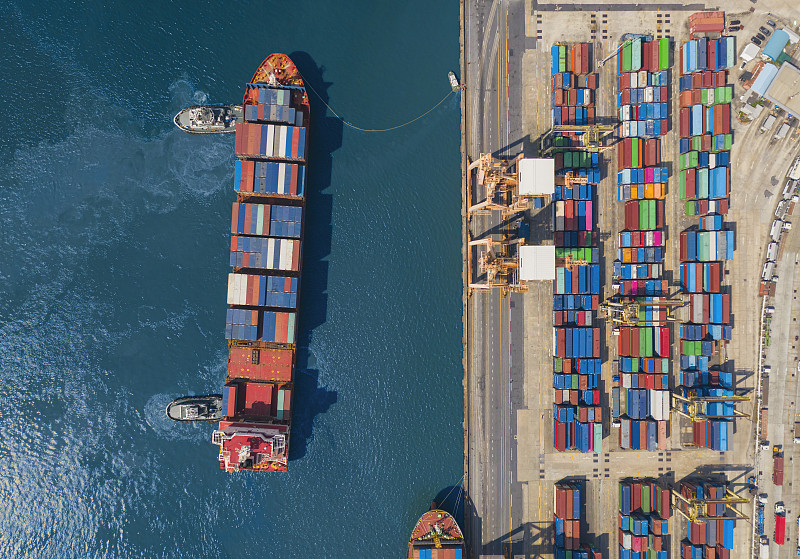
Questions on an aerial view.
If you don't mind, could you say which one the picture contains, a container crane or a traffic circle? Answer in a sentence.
Visible in the photo is a container crane.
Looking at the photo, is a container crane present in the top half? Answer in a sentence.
Yes, a container crane shows up in the top half.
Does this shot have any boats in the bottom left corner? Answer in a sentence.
Yes, a boat can be seen in the bottom left corner.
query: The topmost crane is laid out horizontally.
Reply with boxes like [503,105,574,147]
[541,124,616,159]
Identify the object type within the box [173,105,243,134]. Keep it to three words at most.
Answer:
boat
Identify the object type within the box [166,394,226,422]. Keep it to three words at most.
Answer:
boat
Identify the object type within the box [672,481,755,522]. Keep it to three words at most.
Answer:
crane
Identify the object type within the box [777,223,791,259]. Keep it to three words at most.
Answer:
vehicle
